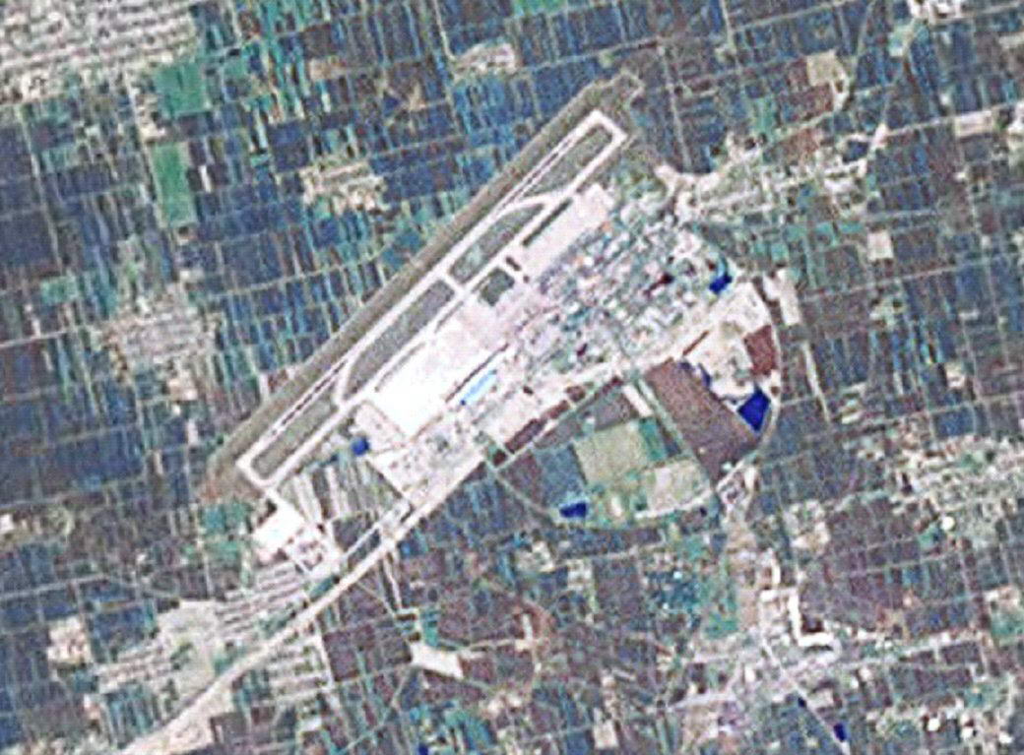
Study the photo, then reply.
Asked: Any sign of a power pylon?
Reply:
No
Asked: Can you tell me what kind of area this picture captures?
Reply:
farmland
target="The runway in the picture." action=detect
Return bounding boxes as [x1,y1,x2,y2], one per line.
[236,112,600,464]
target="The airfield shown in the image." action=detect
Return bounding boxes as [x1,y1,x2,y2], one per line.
[200,70,643,545]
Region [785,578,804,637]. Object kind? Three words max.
building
